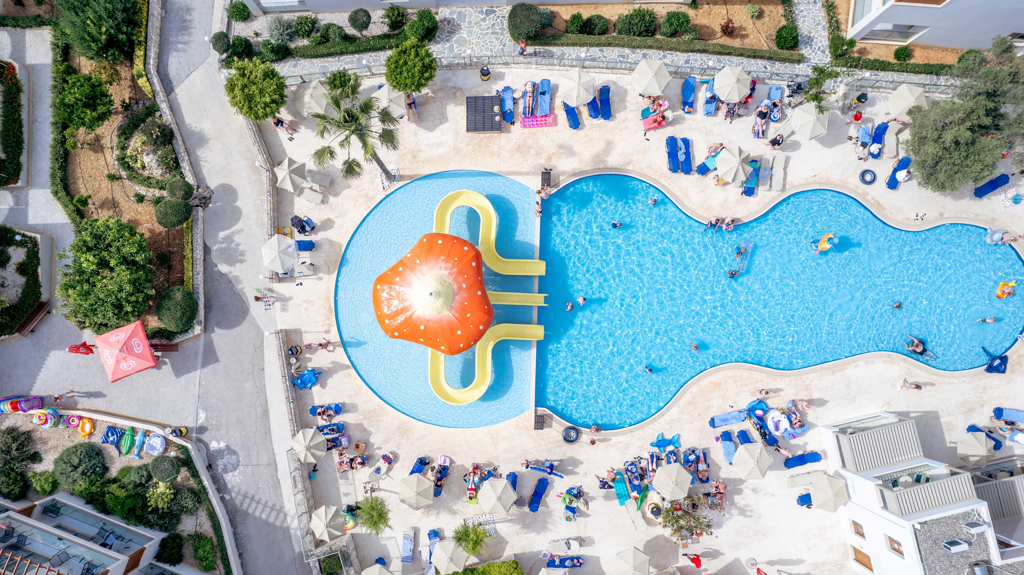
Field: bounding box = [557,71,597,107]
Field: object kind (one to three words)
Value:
umbrella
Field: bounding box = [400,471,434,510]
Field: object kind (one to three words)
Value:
umbrella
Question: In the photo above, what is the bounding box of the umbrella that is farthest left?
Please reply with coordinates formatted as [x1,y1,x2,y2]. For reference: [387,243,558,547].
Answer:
[65,338,100,356]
